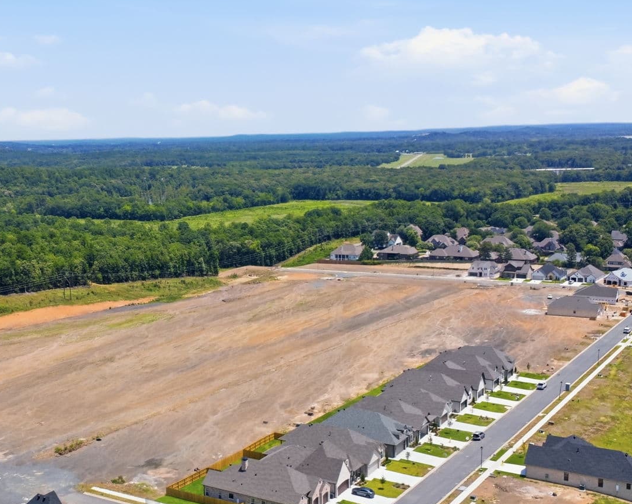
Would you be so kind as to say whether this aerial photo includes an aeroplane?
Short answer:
No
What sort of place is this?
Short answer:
residential area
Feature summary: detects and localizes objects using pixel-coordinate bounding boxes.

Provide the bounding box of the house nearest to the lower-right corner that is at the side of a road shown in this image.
[523,430,632,504]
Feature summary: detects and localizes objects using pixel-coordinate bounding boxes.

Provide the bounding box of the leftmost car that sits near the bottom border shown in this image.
[353,485,379,498]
